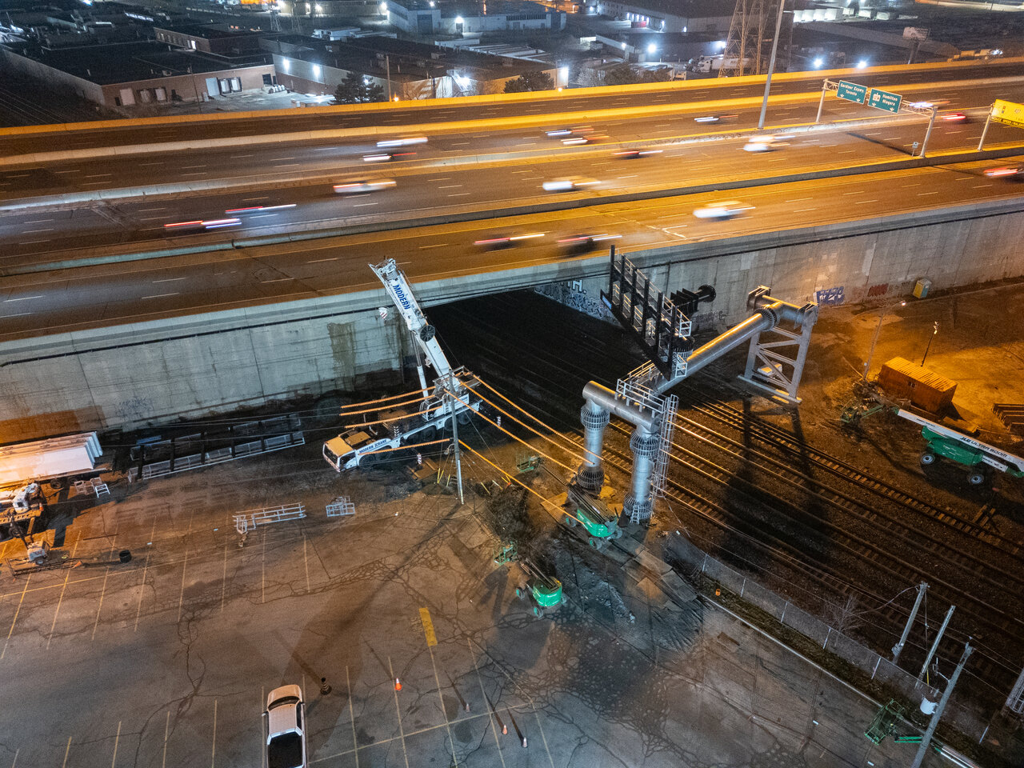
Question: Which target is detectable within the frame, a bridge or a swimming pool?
bridge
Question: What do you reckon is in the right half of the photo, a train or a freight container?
freight container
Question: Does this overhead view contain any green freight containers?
No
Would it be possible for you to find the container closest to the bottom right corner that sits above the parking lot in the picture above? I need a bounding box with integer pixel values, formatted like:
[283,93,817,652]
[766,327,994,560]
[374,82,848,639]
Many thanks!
[876,356,959,413]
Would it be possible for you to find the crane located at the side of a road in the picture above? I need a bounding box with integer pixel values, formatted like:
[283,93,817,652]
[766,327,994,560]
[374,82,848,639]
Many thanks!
[321,255,501,468]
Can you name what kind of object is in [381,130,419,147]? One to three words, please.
vehicle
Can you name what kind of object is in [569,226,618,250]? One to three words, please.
car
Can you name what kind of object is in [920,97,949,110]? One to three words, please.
vehicle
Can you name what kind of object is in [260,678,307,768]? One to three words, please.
truck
